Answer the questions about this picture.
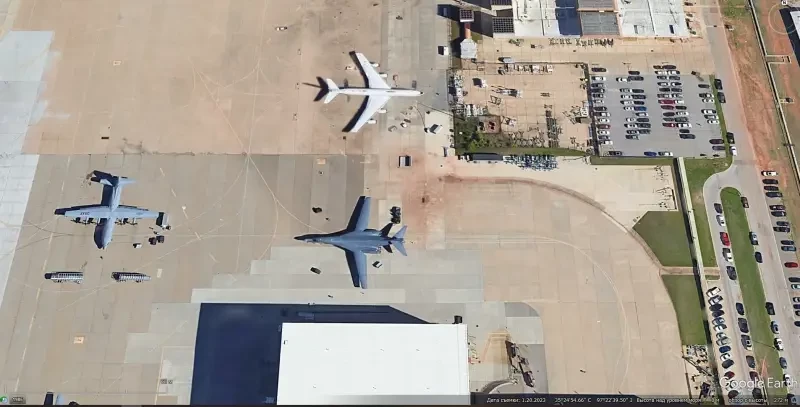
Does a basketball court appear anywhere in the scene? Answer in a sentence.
No, there isn't any basketball court down there.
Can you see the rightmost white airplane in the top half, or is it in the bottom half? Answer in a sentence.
Seen from above, the rightmost white airplane lies in the top half of the view.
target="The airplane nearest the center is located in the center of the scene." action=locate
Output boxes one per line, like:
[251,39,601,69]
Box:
[303,196,408,289]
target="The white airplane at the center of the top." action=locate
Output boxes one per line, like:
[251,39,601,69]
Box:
[324,53,423,131]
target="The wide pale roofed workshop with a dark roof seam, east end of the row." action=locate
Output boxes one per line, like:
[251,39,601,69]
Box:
[617,0,692,40]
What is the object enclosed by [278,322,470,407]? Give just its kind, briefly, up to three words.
hangar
